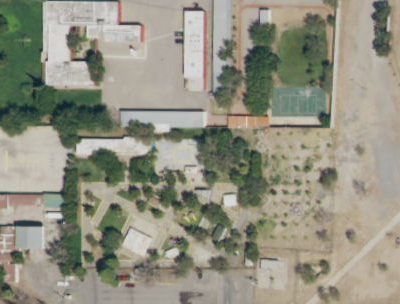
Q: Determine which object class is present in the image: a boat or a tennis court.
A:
tennis court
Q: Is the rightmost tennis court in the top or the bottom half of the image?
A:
top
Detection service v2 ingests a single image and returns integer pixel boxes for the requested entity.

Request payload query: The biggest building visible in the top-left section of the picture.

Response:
[44,2,142,85]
